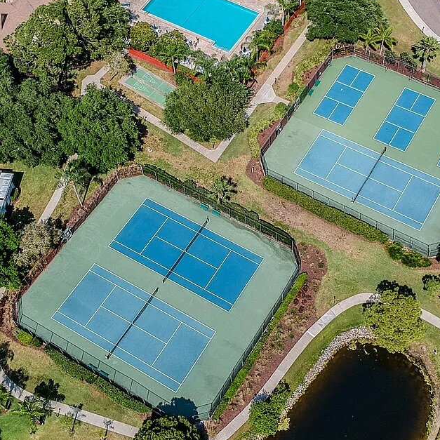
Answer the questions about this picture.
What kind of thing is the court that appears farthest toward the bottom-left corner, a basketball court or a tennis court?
tennis court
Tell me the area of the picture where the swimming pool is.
top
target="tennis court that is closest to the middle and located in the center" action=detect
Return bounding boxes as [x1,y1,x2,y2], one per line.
[108,198,265,313]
